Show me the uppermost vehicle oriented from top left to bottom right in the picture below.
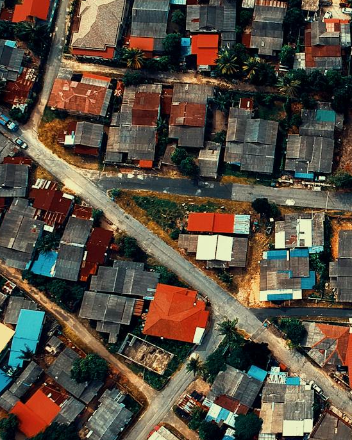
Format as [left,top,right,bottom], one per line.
[0,113,15,132]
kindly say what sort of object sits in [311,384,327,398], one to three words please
vehicle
